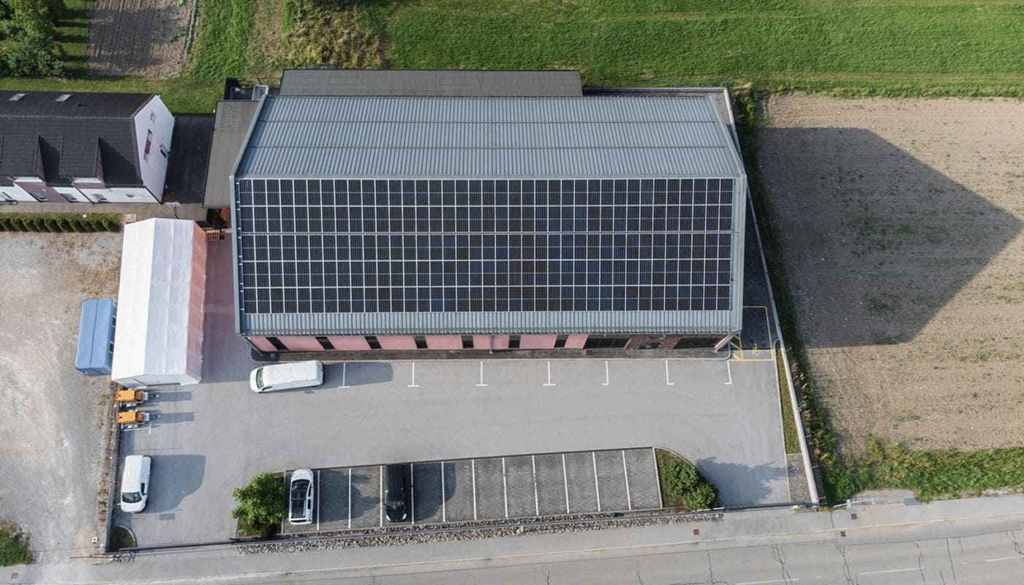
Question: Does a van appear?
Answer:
Yes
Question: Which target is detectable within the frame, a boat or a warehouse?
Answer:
warehouse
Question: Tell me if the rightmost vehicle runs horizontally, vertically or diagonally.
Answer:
vertically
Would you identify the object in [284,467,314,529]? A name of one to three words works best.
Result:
car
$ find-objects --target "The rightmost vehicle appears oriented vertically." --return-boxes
[379,462,409,524]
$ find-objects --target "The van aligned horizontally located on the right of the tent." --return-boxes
[248,355,324,392]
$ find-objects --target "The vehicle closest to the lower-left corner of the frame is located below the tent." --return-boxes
[116,454,152,511]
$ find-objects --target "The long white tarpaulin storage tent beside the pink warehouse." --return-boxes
[112,218,206,388]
